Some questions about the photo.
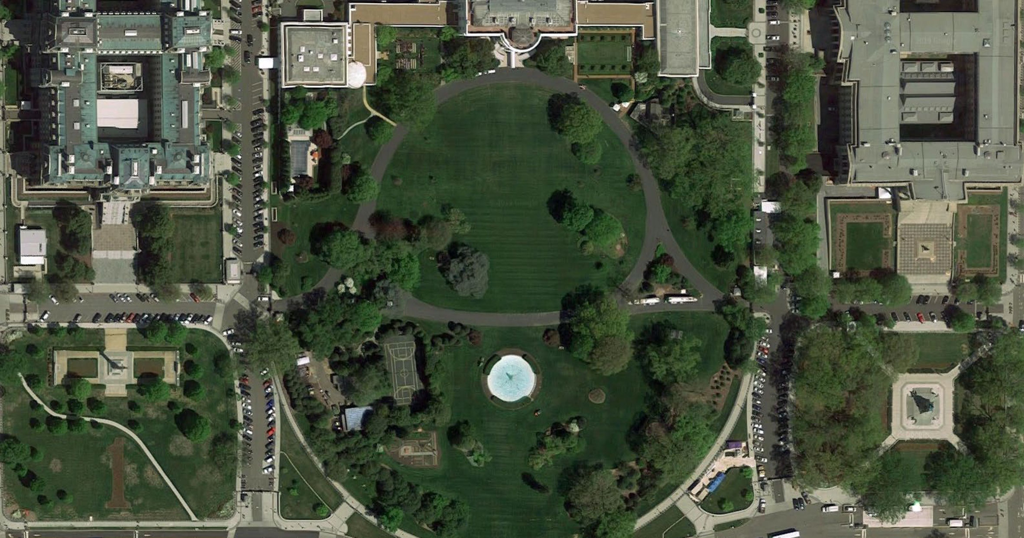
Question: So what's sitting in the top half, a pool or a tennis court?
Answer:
pool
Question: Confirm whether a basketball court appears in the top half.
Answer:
No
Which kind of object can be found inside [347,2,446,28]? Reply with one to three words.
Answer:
building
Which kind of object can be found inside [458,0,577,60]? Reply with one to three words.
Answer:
house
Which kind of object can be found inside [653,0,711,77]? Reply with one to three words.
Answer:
building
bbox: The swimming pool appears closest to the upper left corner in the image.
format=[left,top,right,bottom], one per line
[288,137,320,183]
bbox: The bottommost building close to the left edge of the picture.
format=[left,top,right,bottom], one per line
[14,226,47,278]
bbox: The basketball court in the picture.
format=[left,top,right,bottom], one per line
[382,334,422,405]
